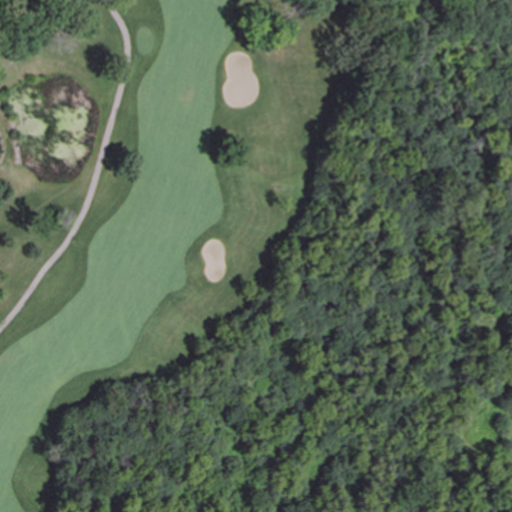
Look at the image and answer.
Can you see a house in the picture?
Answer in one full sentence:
No, the picture doesn't show any house.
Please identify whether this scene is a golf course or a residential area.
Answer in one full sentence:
What you see here is a golf course.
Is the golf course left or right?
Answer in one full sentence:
The golf course is on the left side of the image.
